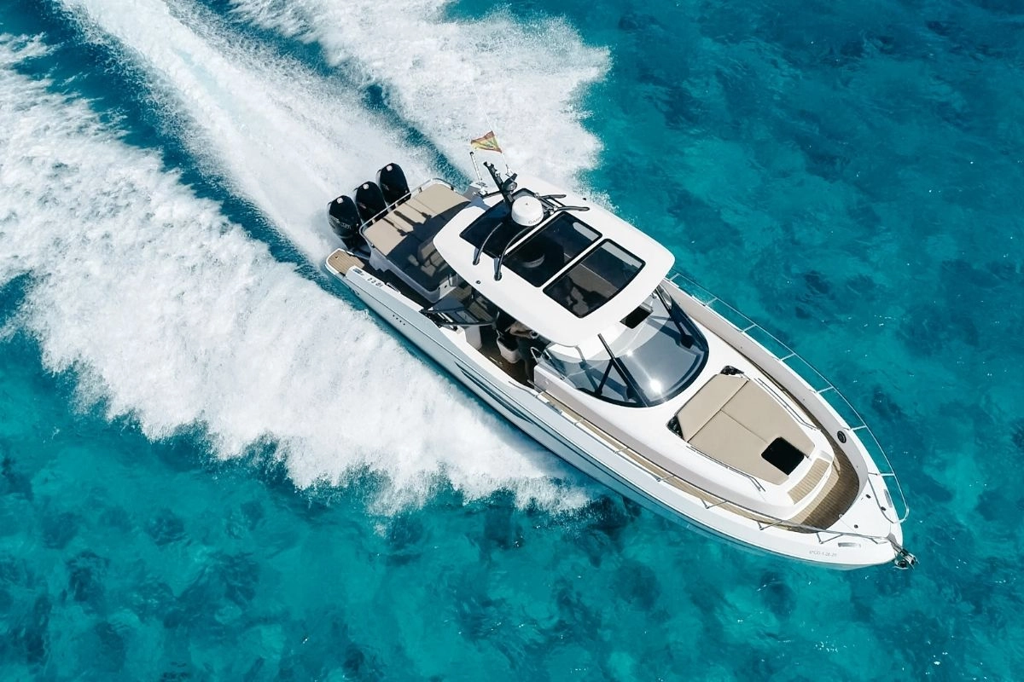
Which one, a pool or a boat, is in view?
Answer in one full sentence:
The one in the frame is a boat.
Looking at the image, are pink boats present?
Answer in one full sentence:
No, I can't see a single pink boat in this photo.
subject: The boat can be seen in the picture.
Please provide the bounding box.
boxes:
[325,90,926,566]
